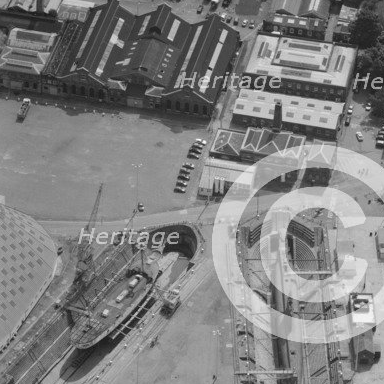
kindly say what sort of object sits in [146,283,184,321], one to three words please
crane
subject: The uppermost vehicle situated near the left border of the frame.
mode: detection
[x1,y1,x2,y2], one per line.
[16,95,29,118]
